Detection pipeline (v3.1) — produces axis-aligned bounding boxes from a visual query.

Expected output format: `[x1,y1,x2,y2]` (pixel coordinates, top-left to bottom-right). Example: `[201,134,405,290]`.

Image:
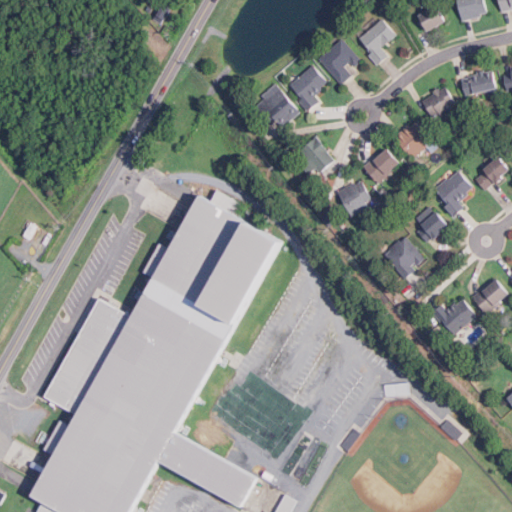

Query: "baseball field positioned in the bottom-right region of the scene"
[344,400,462,512]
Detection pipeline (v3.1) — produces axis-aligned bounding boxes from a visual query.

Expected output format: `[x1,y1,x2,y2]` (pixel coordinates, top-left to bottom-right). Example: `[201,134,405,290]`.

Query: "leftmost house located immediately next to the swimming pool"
[434,299,476,334]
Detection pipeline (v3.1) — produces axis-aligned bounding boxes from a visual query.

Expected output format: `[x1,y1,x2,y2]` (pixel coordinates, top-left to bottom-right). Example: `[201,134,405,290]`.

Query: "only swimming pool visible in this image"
[467,326,483,344]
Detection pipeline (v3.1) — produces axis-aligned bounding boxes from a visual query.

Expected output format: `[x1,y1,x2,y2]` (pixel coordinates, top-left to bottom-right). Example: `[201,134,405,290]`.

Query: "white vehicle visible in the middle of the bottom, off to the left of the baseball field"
[258,469,278,482]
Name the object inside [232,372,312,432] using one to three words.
tennis court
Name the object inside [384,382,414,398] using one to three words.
building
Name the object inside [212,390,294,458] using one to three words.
tennis court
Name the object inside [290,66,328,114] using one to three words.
house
